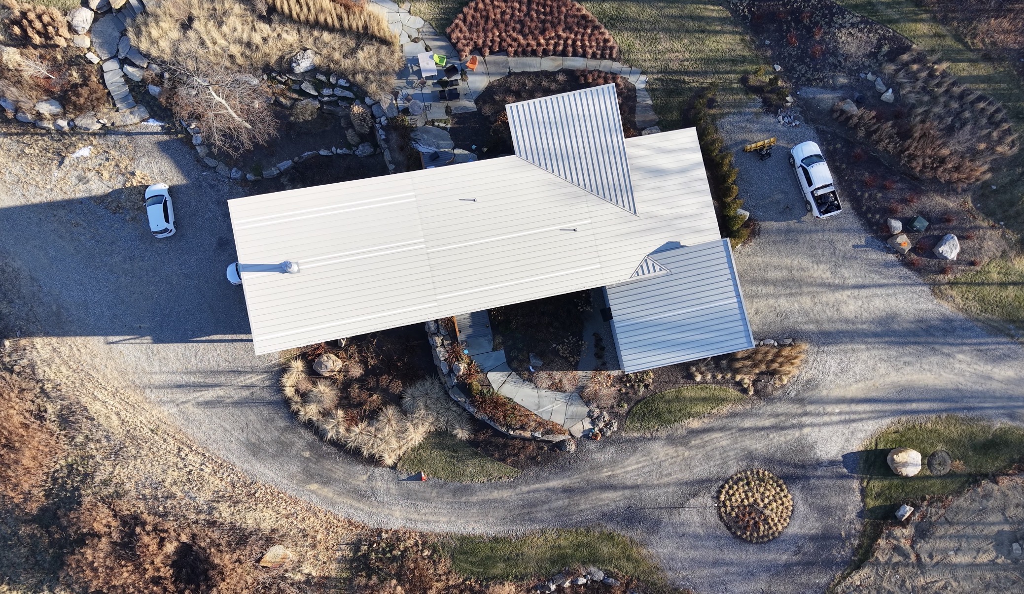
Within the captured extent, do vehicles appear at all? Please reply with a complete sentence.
Yes, looking at the shot, I can spot a vehicle.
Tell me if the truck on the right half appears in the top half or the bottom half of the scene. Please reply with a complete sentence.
The top half of the photo is where the truck on the right half is.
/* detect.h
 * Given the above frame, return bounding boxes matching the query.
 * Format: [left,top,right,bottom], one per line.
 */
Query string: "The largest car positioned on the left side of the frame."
[144,184,179,237]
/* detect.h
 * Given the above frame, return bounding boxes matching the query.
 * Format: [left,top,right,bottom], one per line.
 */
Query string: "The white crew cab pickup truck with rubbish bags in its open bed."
[789,143,845,225]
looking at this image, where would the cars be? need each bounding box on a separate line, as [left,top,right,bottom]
[228,261,242,286]
[144,184,179,237]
